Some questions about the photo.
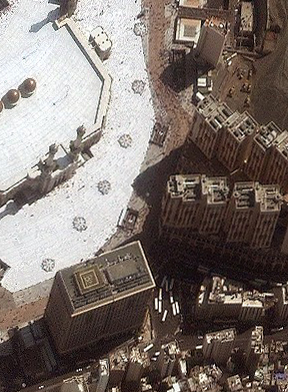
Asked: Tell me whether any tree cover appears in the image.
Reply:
No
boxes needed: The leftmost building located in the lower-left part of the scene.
[0,320,66,392]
